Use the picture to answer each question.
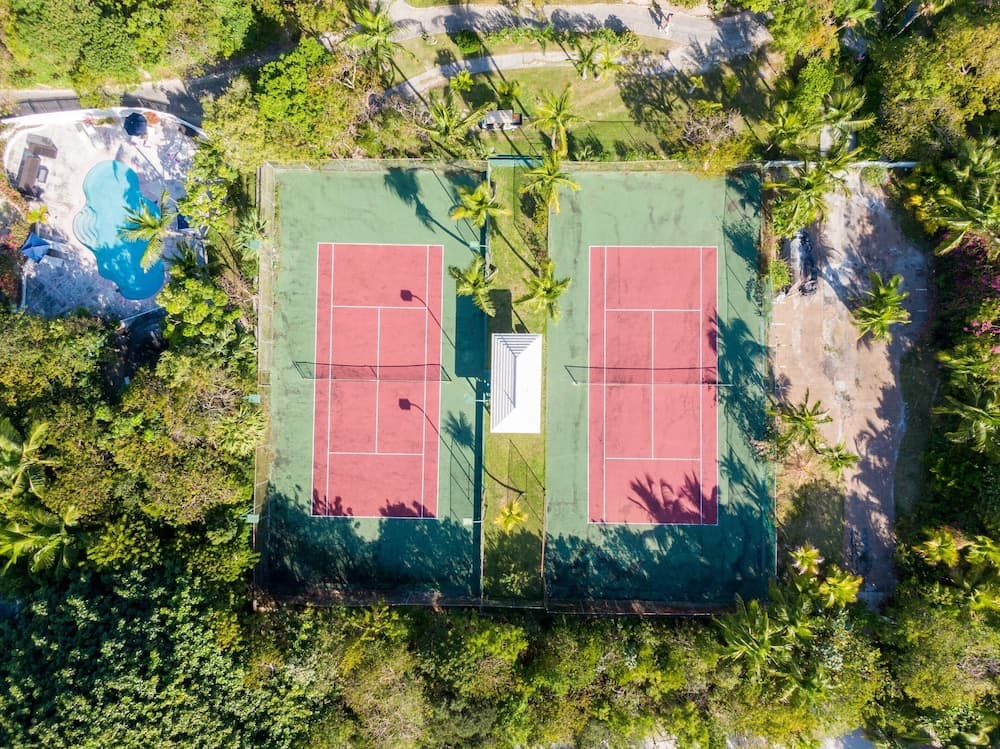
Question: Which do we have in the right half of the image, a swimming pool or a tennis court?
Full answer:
Looking in the right half of the image, you will find a tennis court.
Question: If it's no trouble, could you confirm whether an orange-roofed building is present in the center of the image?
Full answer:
No, I see no orange-roofed building in the center of the image.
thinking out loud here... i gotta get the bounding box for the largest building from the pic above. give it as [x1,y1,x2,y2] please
[492,334,542,434]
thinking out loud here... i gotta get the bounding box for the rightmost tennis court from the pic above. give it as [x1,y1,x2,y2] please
[545,171,769,599]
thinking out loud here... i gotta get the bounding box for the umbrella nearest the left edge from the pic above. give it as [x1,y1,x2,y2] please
[23,233,56,263]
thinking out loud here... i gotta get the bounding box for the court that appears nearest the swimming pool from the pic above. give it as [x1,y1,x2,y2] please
[267,168,488,595]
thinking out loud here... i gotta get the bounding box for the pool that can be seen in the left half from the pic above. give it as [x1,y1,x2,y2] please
[71,156,168,302]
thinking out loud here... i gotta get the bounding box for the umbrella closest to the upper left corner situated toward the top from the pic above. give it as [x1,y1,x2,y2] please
[124,112,152,139]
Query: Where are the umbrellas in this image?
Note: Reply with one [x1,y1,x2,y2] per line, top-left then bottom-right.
[23,233,56,263]
[176,212,195,229]
[124,112,152,139]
